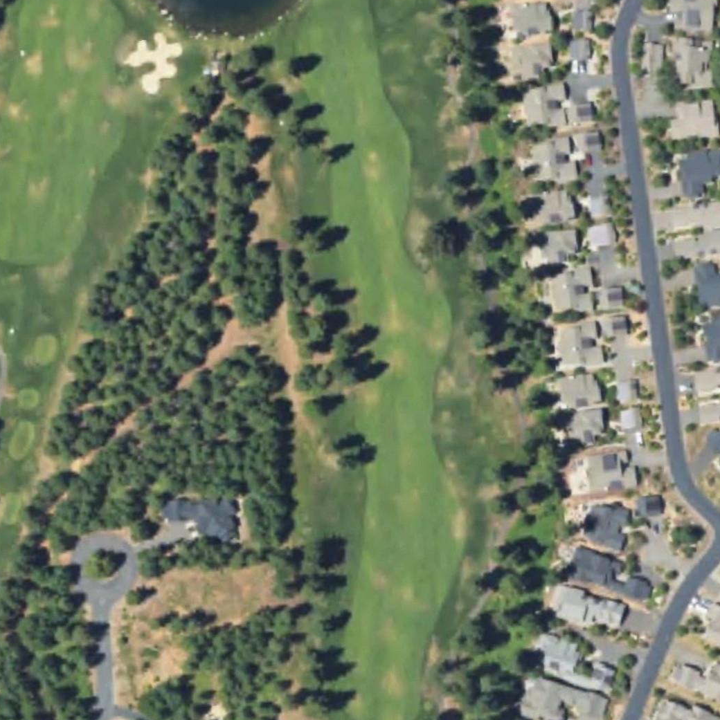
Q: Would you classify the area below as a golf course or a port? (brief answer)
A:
golf course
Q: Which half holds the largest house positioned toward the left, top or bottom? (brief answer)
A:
bottom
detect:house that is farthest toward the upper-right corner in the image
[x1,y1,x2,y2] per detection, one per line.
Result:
[668,0,718,34]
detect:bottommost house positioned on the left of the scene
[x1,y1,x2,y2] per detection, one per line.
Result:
[163,493,237,541]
